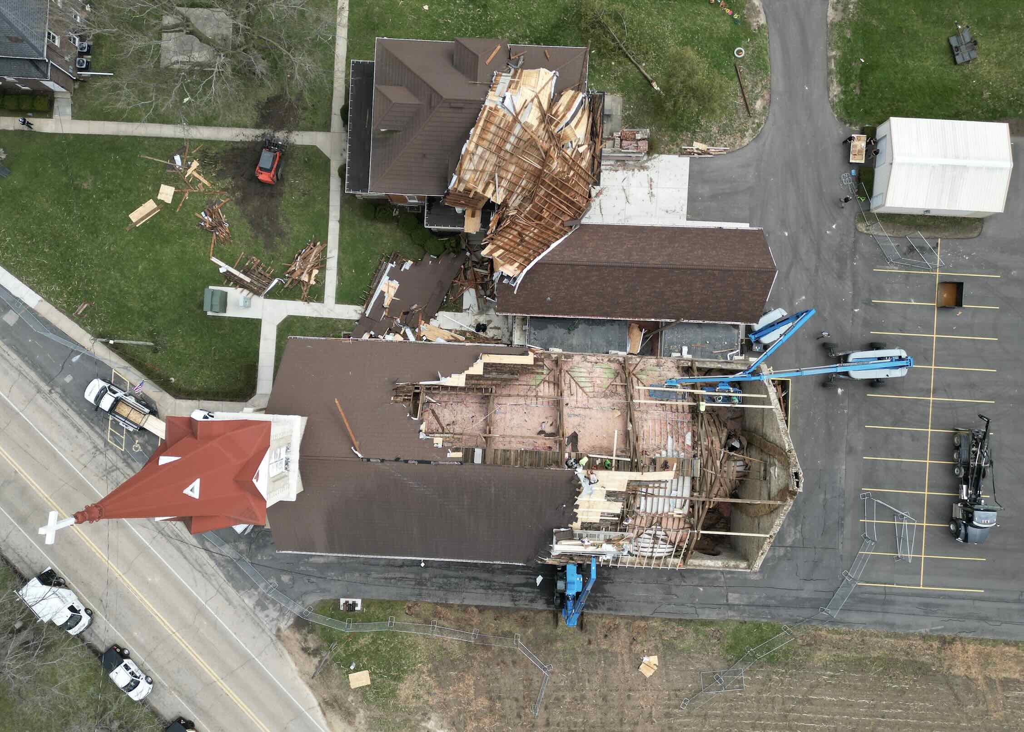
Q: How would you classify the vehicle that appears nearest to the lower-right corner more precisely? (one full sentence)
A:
I'd identify the vehicle that appears nearest to the lower-right corner as a truck.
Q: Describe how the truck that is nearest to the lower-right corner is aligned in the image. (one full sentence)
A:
From this overhead view, the truck that is nearest to the lower-right corner appears to run from top to bottom.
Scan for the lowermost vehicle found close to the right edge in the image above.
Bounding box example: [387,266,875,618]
[956,424,1011,548]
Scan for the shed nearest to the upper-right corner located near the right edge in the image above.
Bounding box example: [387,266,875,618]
[871,116,1016,218]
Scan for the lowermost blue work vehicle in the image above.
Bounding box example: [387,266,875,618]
[556,557,597,628]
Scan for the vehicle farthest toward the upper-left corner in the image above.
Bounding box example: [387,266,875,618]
[249,134,285,181]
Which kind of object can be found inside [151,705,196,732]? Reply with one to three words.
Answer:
truck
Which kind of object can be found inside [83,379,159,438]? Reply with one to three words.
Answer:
truck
